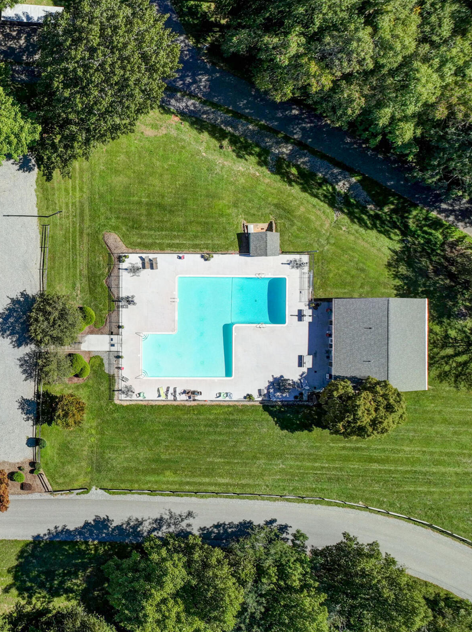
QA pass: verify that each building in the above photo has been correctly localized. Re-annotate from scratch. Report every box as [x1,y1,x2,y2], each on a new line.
[328,298,429,391]
[247,233,280,255]
[0,2,65,30]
